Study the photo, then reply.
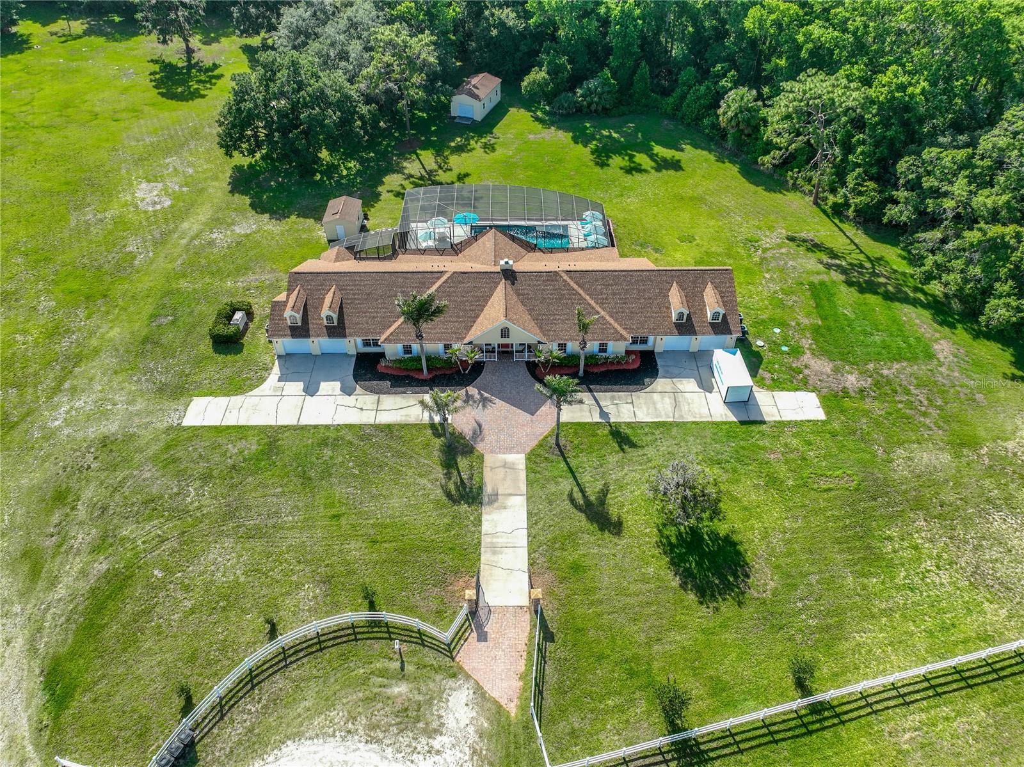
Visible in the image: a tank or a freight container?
freight container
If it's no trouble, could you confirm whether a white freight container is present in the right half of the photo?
Yes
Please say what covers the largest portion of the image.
grass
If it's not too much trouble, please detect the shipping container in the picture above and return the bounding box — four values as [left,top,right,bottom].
[713,347,754,402]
